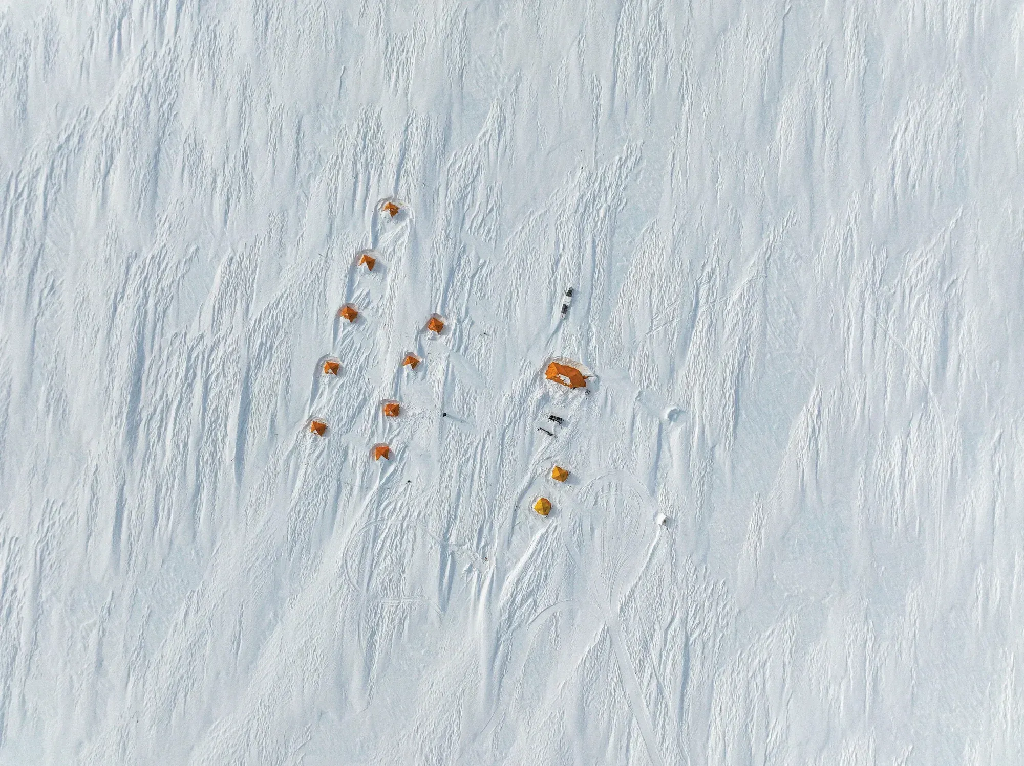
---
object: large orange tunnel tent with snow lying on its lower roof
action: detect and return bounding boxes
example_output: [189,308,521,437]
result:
[545,362,592,390]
